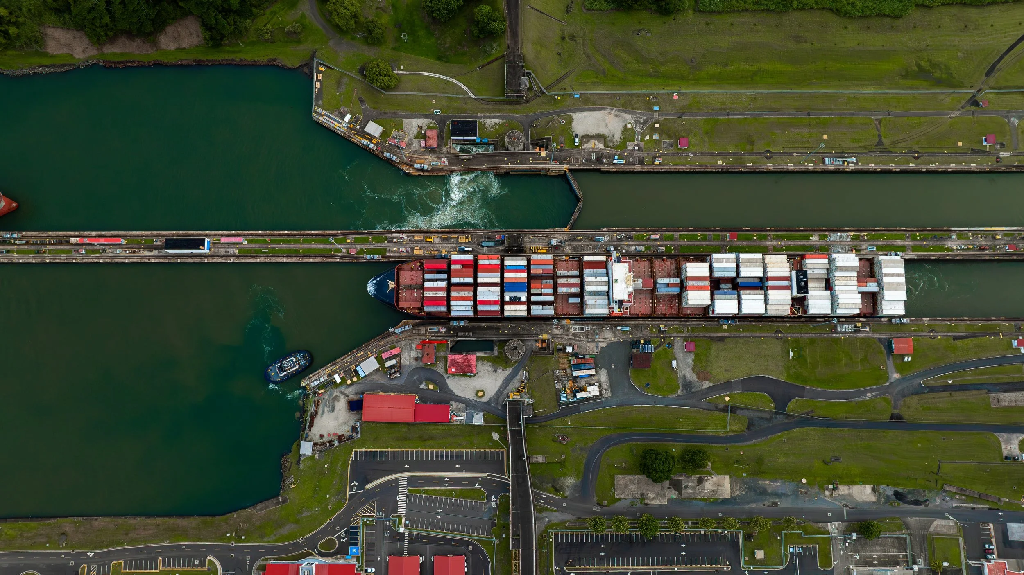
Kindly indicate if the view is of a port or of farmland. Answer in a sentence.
This looks like a port.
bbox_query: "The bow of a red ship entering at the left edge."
[0,191,23,221]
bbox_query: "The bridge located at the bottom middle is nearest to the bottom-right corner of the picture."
[506,399,537,575]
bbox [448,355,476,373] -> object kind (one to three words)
building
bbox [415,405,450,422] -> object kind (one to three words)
building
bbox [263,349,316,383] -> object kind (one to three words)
boat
